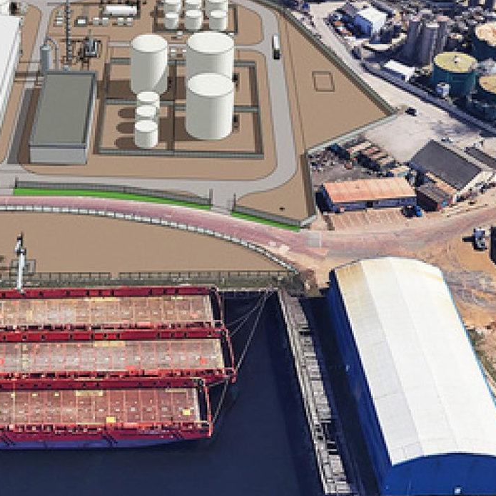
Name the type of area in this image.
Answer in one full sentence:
It's an industrial area.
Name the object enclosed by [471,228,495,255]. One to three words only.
truck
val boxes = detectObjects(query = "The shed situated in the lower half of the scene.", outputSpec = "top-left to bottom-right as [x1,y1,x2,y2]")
[328,256,496,495]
